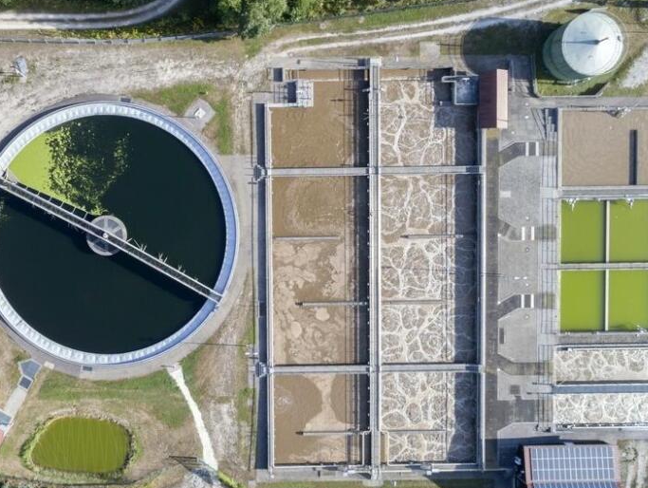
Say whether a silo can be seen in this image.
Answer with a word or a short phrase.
Yes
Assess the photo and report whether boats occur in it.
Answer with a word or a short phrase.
No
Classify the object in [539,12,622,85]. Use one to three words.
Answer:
silo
